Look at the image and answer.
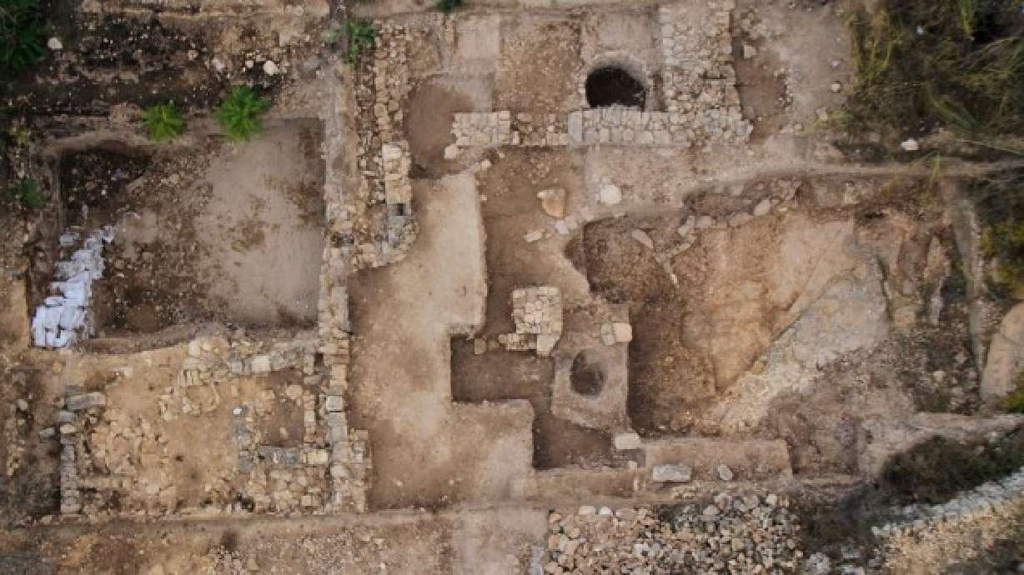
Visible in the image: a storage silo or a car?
storage silo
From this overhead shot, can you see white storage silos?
No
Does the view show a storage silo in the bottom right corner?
No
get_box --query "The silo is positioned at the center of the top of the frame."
[583,66,641,111]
